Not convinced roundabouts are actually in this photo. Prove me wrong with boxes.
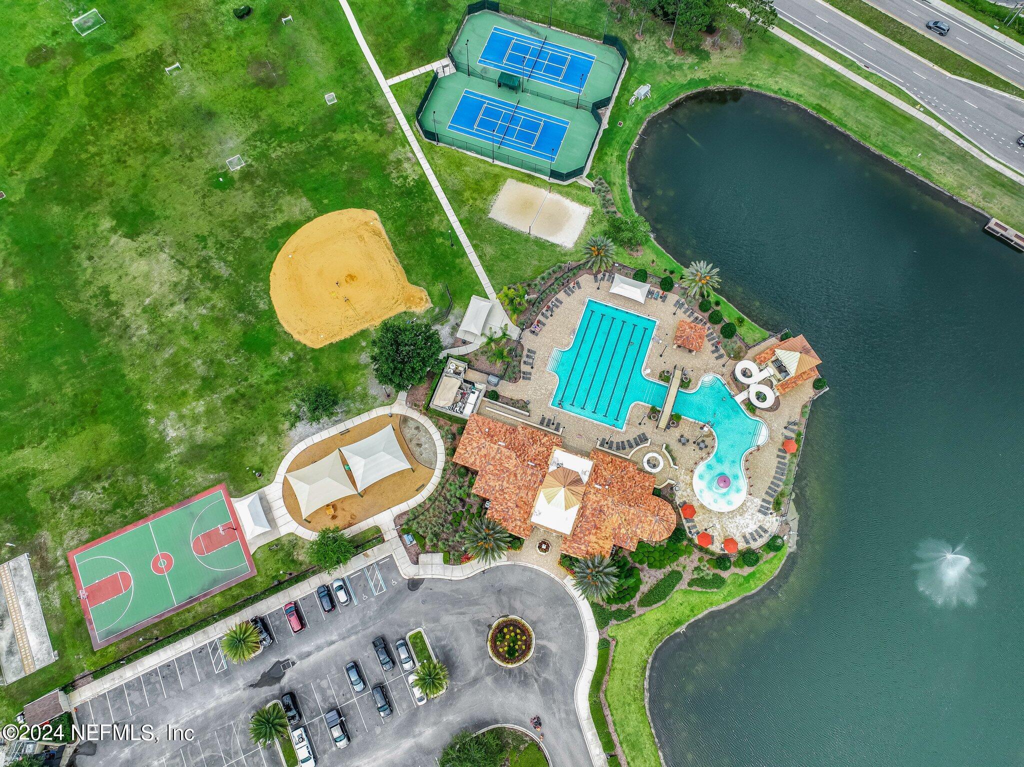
[486,613,537,670]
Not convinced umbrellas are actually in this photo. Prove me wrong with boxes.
[782,440,797,454]
[697,532,712,548]
[723,538,739,553]
[680,505,696,519]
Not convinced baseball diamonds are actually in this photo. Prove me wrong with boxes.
[270,207,433,349]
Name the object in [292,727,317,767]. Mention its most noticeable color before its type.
white truck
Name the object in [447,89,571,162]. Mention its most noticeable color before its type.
blue tennis court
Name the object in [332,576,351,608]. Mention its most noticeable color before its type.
white car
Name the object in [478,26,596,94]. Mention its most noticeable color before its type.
blue tennis court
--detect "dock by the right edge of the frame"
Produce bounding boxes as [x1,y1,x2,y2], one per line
[983,216,1024,253]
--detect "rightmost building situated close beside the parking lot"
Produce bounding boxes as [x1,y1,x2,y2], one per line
[453,414,677,563]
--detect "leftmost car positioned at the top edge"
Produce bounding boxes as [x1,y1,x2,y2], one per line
[926,22,950,36]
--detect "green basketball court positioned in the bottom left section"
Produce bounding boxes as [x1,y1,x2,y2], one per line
[67,483,256,650]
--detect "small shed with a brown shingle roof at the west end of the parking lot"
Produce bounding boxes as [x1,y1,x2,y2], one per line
[23,689,71,729]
